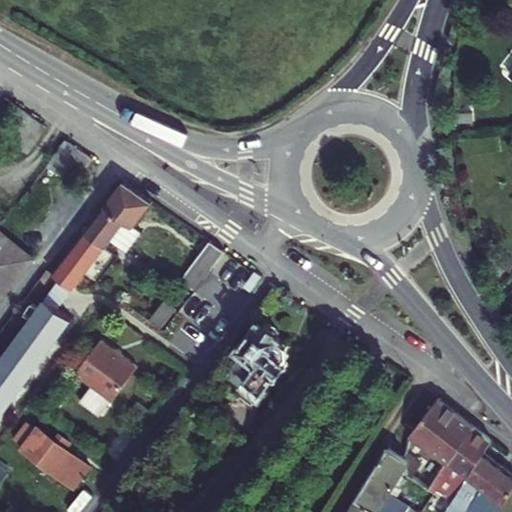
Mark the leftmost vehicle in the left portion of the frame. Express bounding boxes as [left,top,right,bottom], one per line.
[19,302,36,322]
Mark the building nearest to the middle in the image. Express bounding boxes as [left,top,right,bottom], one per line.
[186,243,224,287]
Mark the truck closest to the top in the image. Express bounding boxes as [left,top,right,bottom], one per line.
[116,105,186,144]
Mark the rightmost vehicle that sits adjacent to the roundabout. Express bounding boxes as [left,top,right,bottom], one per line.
[362,252,385,272]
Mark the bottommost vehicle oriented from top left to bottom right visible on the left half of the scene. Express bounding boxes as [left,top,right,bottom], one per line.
[183,324,204,343]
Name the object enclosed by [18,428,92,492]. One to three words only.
house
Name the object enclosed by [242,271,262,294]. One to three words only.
vehicle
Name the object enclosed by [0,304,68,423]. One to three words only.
barn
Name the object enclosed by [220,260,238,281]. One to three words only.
car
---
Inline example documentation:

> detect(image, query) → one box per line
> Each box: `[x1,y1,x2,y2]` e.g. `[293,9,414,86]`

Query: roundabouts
[267,89,433,258]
